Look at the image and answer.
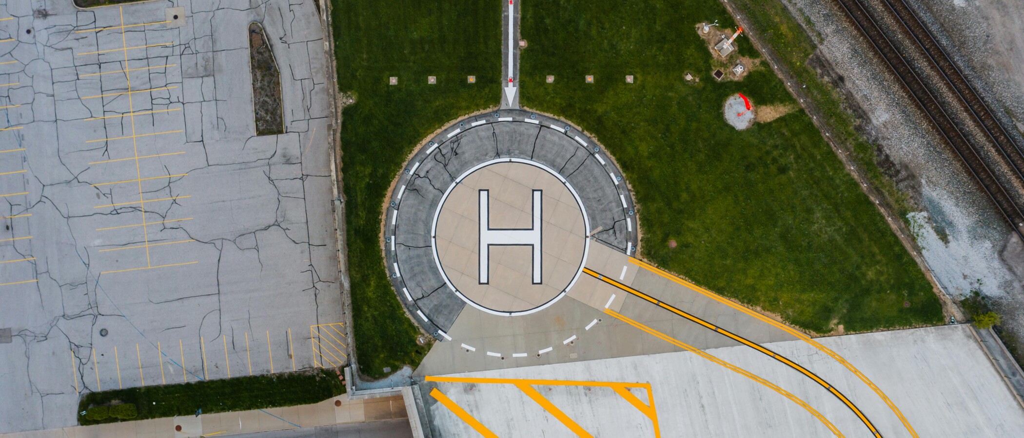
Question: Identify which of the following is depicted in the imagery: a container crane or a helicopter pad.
helicopter pad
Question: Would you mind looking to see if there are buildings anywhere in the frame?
No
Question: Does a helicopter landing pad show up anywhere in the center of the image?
Yes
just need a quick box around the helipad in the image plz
[384,111,637,358]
